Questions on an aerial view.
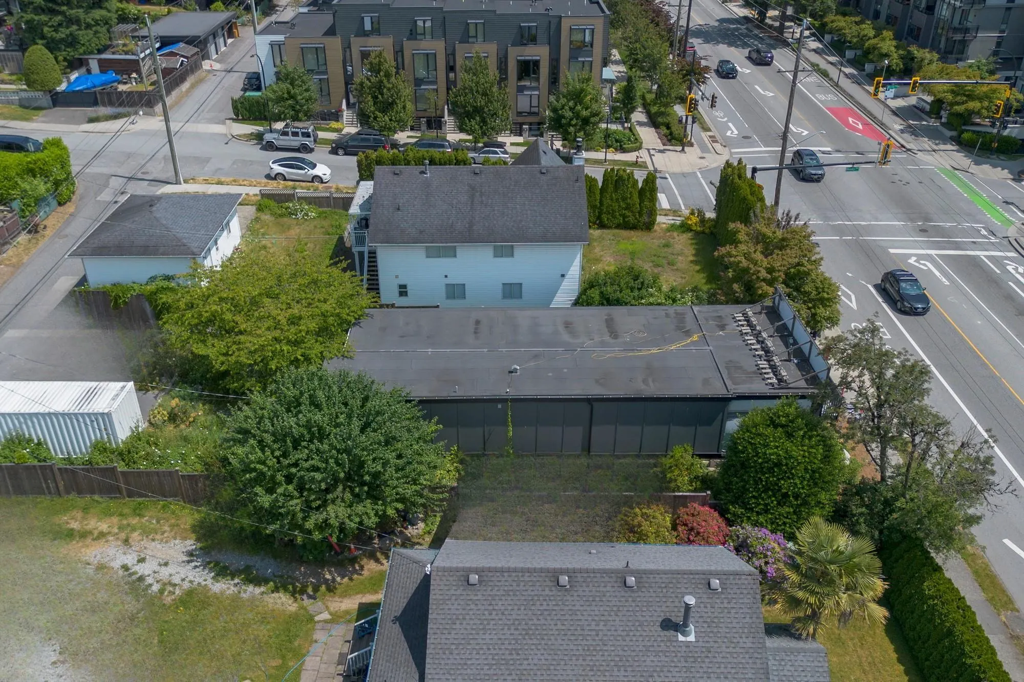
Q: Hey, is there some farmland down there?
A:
No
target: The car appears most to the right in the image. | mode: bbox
[882,266,937,312]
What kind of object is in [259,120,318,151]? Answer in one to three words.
car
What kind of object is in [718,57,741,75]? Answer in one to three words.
car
